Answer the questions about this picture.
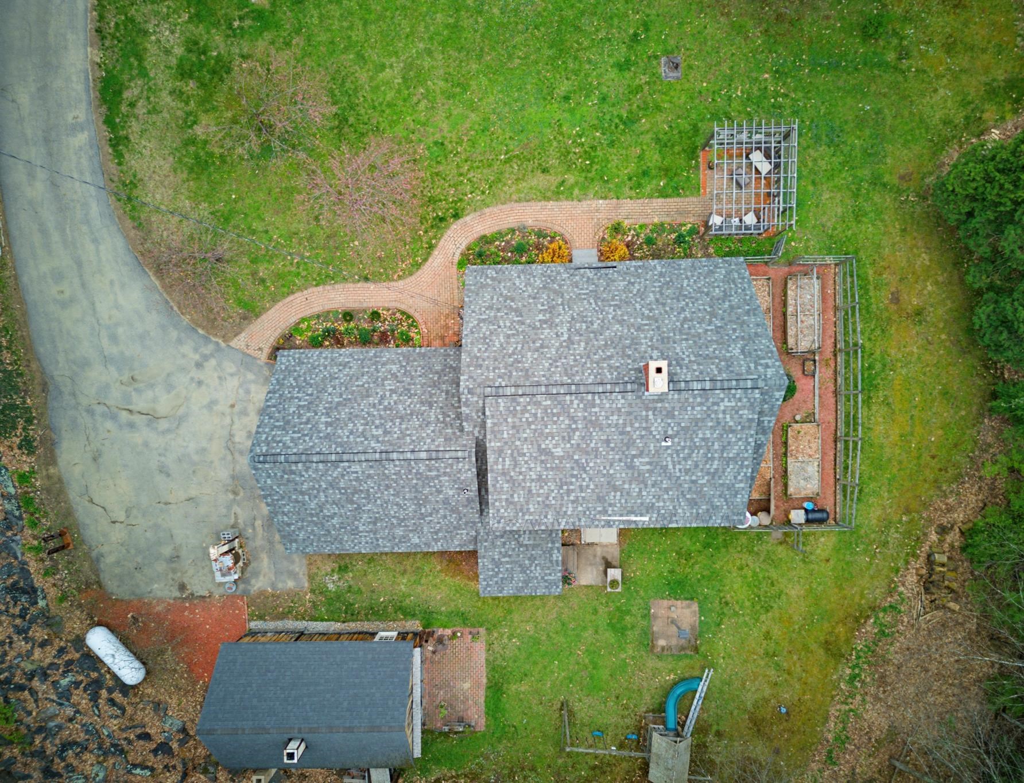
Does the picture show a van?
No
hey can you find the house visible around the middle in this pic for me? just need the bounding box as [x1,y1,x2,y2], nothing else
[249,257,788,597]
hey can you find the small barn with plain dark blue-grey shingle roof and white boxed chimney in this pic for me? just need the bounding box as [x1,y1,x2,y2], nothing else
[197,626,422,768]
